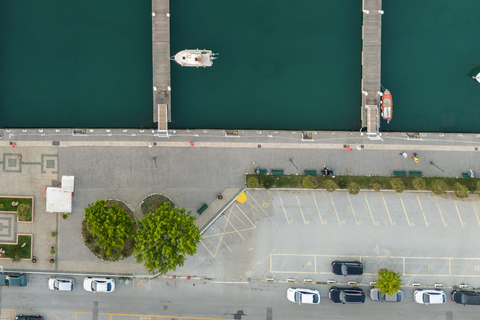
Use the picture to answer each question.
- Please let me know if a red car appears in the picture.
No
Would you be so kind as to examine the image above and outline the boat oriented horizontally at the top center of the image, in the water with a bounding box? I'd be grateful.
[170,49,219,67]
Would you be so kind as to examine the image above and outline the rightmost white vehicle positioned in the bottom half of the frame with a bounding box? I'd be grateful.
[413,289,445,305]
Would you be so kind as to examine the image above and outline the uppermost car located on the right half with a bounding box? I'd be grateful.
[331,261,363,276]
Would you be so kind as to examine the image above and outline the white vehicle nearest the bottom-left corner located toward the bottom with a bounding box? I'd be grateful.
[48,276,75,291]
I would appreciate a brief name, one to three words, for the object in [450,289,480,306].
car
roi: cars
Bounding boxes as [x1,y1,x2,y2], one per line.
[331,261,363,276]
[450,289,480,306]
[0,273,28,287]
[287,288,320,305]
[16,315,43,320]
[48,276,75,291]
[369,287,403,304]
[330,287,364,305]
[413,289,445,305]
[84,277,115,292]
